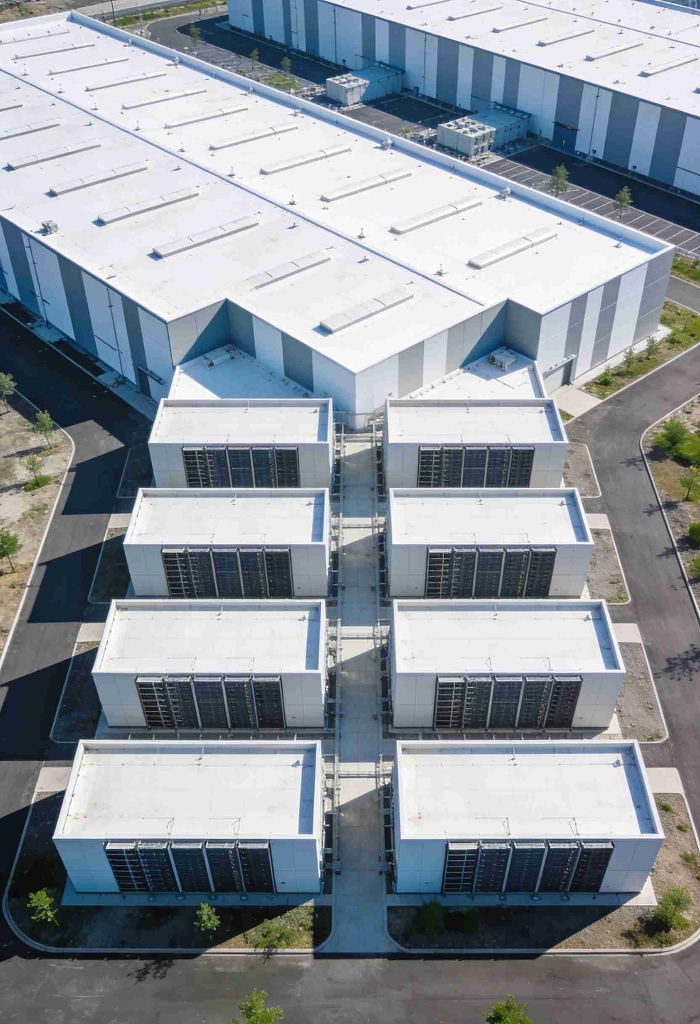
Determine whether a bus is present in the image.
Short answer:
No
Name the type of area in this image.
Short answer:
industrial area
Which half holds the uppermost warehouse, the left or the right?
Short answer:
right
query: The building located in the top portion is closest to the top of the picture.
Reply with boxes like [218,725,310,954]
[231,0,700,197]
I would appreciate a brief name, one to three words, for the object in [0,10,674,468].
warehouse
